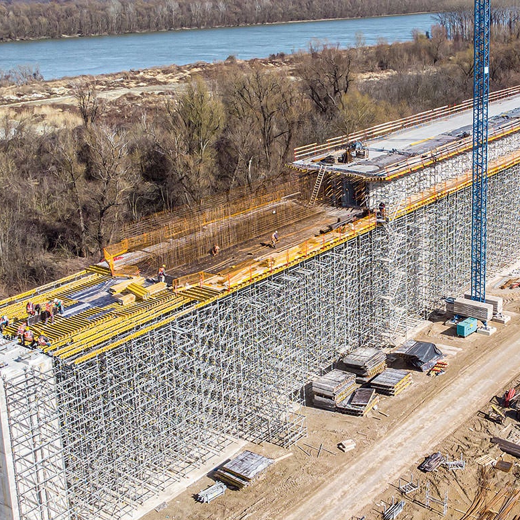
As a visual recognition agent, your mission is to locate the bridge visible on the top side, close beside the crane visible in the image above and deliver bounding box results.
[303,92,520,209]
